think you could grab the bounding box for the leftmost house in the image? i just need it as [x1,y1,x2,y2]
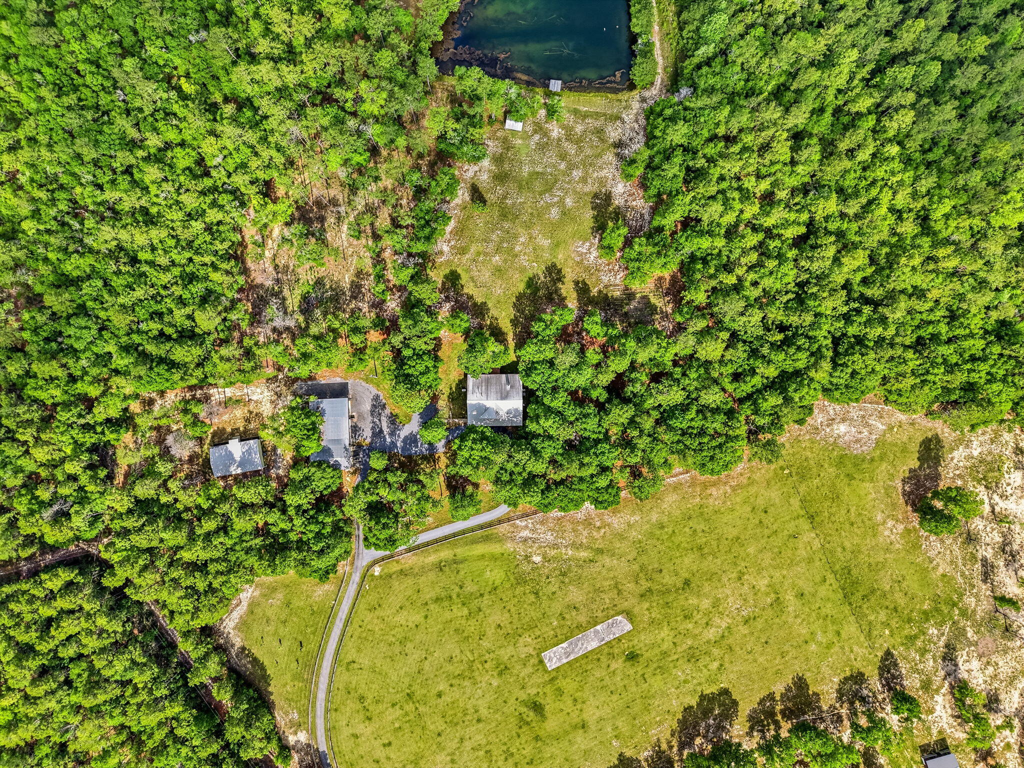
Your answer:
[210,435,267,477]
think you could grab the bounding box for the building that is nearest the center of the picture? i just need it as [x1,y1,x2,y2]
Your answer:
[467,374,523,426]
